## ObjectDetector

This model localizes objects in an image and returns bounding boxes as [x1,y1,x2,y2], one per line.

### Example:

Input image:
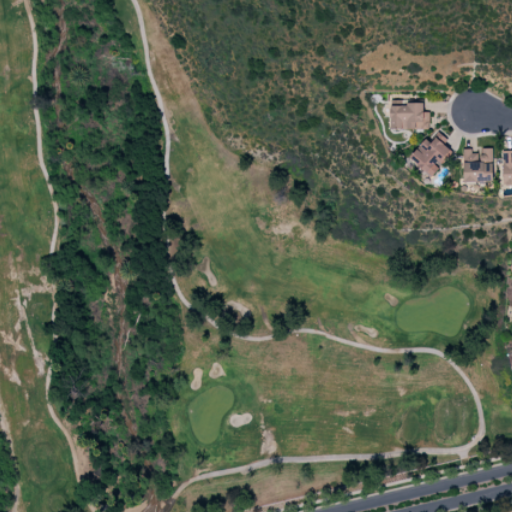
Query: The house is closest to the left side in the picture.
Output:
[390,99,431,129]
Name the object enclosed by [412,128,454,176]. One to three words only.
house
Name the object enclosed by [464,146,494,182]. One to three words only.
house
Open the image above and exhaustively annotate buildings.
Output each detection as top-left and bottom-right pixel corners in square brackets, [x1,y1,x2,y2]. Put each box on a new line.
[412,128,454,176]
[504,150,512,186]
[464,146,494,182]
[390,99,431,129]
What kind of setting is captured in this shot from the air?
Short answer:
golf course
